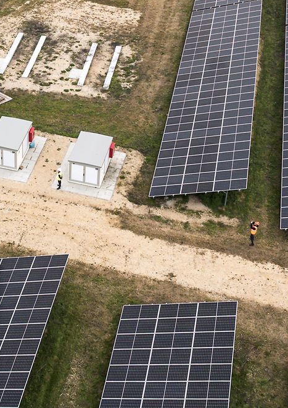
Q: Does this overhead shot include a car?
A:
No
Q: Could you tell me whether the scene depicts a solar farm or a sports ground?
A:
solar farm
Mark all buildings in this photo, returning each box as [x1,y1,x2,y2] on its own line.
[66,123,118,187]
[0,110,36,170]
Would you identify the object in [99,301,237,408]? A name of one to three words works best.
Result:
solar array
